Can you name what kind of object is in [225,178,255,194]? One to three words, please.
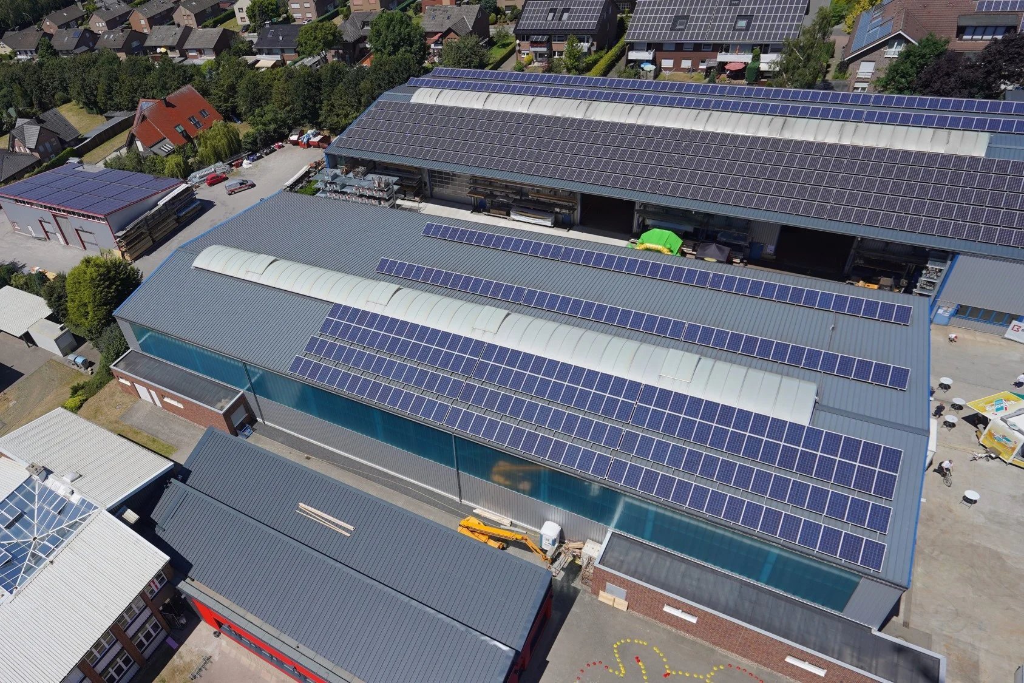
vehicle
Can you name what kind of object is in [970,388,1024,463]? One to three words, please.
trailer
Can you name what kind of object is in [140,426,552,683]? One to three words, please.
building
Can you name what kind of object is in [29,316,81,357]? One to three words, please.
shed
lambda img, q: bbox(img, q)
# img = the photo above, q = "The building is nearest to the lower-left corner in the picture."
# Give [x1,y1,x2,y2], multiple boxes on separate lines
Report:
[0,407,188,683]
